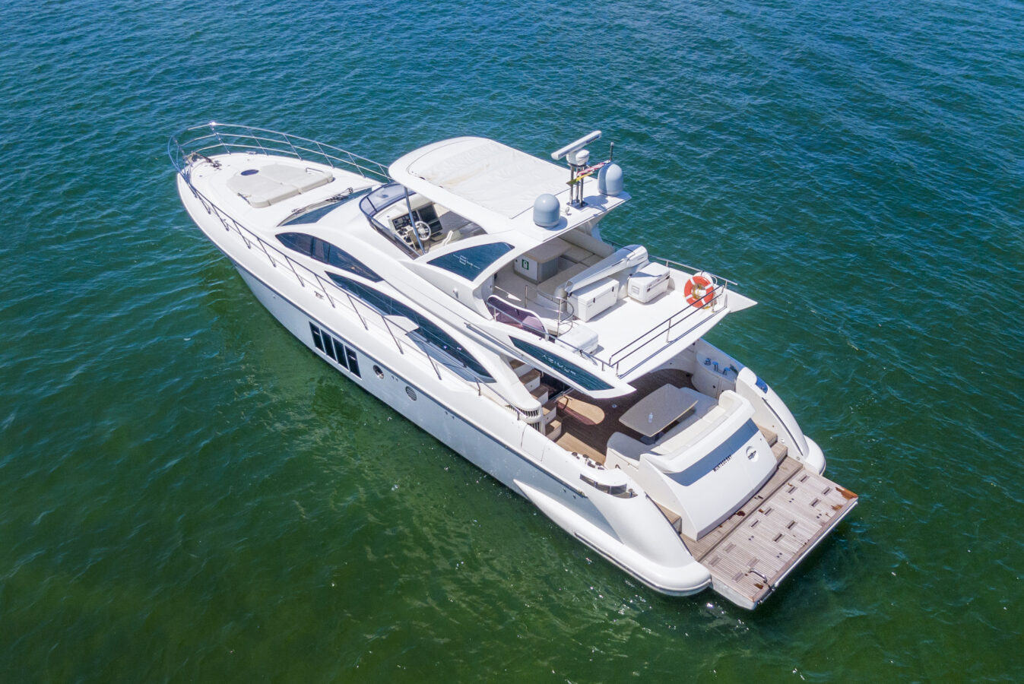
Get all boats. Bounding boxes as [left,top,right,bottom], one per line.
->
[172,123,859,608]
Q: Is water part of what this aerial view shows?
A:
Yes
